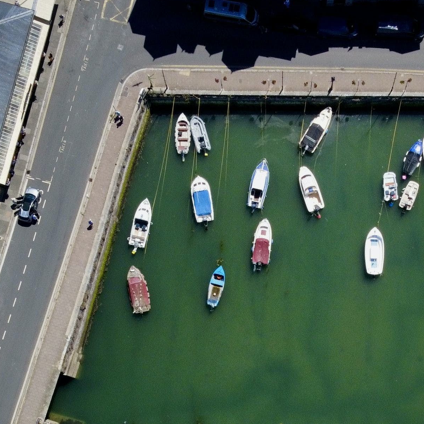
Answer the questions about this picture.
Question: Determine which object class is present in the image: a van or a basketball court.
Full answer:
Looking from above, you can make out a van.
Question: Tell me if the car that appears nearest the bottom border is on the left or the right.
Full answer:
The car that appears nearest the bottom border is on the left side of the image.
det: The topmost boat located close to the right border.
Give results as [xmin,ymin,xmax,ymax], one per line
[403,139,422,183]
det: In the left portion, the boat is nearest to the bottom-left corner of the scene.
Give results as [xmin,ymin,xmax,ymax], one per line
[127,266,150,315]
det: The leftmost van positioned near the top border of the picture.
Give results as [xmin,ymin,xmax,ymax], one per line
[203,0,258,30]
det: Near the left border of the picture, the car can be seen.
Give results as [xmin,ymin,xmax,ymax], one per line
[10,186,43,223]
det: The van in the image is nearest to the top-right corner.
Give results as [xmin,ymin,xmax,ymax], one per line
[375,16,423,47]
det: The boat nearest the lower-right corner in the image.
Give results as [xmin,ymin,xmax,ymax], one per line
[365,227,384,283]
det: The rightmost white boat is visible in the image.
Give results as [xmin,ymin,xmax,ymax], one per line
[399,180,419,217]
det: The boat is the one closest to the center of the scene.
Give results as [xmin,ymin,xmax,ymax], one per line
[191,175,214,229]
